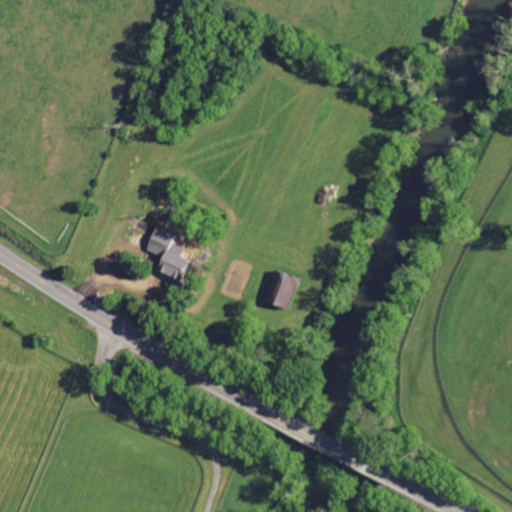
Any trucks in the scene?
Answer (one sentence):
No, this view has no truck in it.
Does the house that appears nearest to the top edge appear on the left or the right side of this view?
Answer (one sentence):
The house that appears nearest to the top edge sits on the left side.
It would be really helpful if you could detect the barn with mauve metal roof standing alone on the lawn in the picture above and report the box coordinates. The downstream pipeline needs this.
[266,270,296,308]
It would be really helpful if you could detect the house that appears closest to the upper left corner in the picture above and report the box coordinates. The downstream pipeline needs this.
[145,228,188,275]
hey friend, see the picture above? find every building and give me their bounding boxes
[145,228,188,275]
[266,270,296,308]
